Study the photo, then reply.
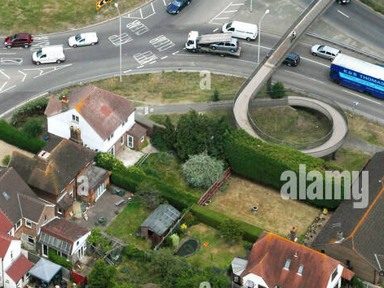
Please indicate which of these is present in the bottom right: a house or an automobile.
house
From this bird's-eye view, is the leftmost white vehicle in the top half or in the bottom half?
top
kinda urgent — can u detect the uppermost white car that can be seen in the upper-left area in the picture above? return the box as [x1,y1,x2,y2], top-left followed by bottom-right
[69,30,98,46]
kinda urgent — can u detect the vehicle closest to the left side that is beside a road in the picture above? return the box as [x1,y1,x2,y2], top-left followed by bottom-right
[3,29,34,46]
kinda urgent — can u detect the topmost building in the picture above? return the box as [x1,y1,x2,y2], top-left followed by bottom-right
[41,74,147,168]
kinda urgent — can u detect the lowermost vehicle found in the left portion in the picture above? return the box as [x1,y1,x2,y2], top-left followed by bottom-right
[30,43,66,65]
